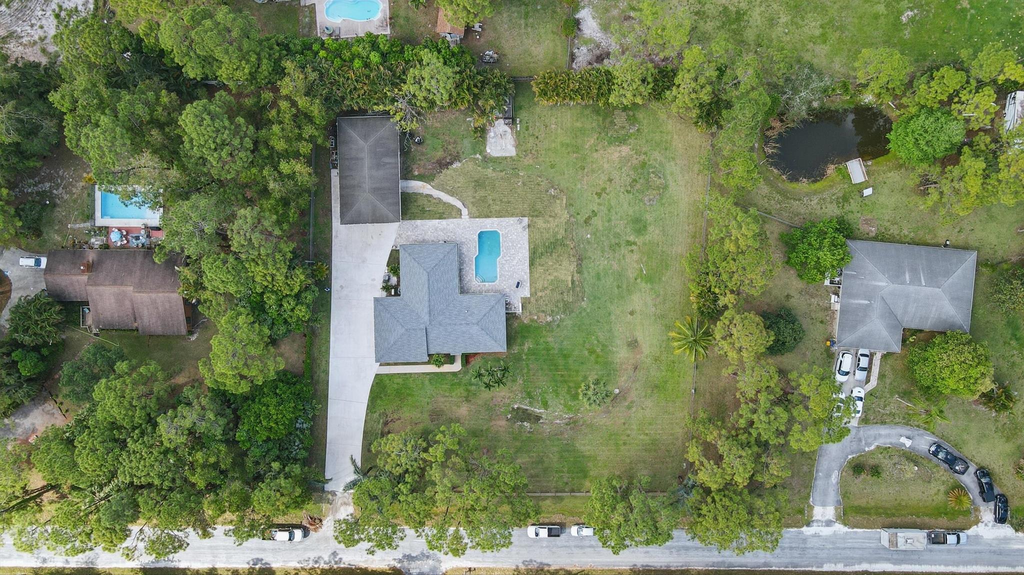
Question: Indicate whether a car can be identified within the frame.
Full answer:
Yes, the photo shows a car.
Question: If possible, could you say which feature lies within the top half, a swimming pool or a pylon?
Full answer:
The feature located within the top half is a swimming pool.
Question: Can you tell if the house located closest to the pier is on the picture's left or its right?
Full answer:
You can find the house located closest to the pier on the right side of the picture.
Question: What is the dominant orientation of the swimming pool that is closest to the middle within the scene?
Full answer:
What the image shows is the swimming pool that is closest to the middle lying from top to bottom.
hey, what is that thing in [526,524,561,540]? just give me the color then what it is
white vehicle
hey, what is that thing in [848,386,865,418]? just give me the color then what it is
white car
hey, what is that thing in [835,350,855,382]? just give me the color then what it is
white car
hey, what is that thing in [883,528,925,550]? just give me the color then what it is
white trailer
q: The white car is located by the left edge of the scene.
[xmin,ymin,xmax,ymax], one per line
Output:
[17,254,44,269]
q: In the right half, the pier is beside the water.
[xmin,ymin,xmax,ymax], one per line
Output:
[844,157,870,184]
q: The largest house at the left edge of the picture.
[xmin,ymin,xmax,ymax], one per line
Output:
[44,249,192,335]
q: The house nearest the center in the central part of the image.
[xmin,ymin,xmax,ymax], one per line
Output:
[373,242,507,363]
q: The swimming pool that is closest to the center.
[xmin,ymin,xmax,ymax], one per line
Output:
[473,228,502,285]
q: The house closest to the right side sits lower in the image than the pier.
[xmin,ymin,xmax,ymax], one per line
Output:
[832,239,977,353]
